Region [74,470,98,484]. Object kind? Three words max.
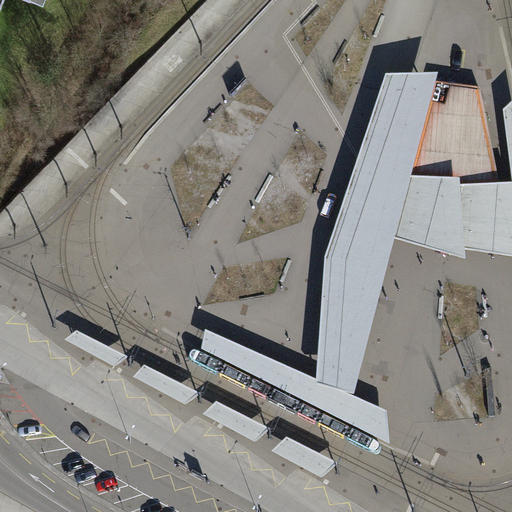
car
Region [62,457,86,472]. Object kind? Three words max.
car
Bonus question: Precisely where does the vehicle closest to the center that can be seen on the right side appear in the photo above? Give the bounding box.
[320,196,335,222]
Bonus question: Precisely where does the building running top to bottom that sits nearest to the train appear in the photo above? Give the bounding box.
[317,72,438,394]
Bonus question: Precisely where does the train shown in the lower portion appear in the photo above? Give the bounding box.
[188,350,382,455]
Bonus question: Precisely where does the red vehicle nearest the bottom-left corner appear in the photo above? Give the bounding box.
[94,480,118,495]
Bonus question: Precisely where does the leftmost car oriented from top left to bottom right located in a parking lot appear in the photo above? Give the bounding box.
[69,424,92,444]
